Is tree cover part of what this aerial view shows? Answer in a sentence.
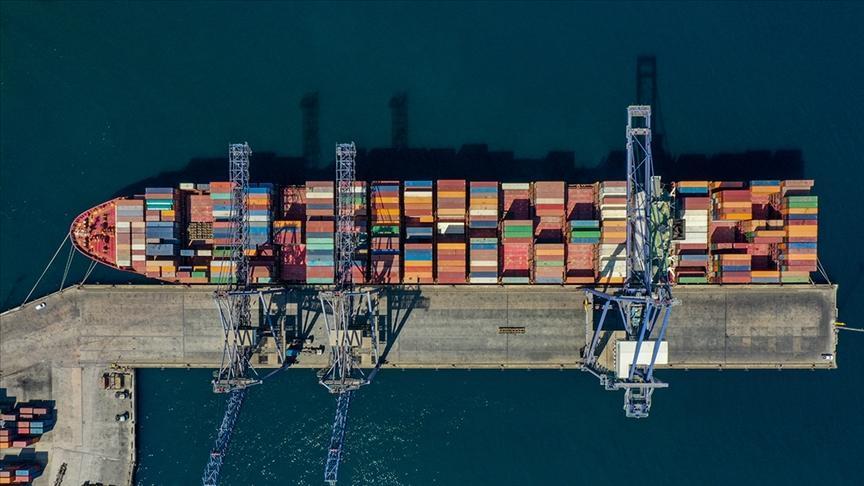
No, there's no tree cover in this view.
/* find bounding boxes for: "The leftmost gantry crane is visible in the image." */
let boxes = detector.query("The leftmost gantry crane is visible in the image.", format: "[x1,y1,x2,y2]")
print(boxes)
[194,143,297,486]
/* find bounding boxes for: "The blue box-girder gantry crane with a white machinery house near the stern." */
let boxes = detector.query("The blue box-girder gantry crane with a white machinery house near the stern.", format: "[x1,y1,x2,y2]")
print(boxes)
[576,103,679,419]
